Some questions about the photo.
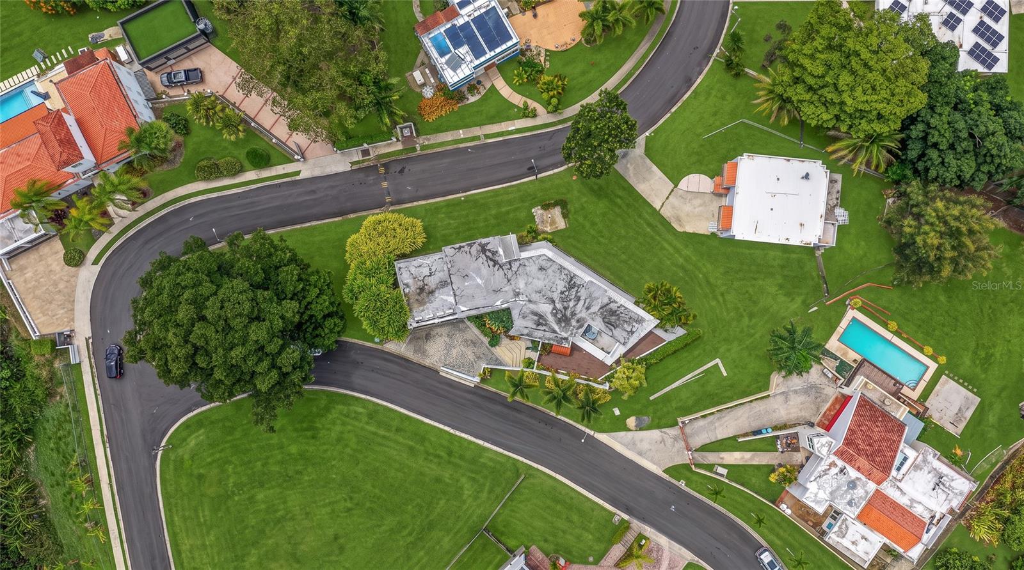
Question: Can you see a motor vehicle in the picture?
Yes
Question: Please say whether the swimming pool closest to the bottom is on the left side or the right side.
right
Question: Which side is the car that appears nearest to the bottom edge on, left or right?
right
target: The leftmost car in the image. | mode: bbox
[104,345,125,379]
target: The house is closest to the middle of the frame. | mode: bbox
[395,234,661,367]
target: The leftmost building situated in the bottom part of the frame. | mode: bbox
[56,331,81,363]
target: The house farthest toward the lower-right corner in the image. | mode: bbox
[786,377,981,569]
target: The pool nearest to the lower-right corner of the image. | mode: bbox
[836,315,931,393]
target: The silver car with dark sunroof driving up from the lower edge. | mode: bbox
[756,545,781,570]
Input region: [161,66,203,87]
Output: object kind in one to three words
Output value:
truck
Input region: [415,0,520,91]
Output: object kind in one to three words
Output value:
house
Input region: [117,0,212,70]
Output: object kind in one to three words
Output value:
building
